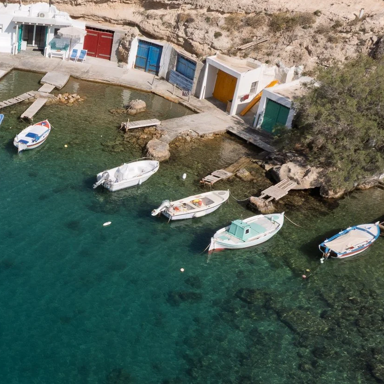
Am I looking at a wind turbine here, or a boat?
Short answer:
boat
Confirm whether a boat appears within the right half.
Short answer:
Yes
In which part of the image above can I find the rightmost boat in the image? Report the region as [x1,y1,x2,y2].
[320,215,382,264]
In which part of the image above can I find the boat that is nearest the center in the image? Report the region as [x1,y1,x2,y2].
[151,186,229,225]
